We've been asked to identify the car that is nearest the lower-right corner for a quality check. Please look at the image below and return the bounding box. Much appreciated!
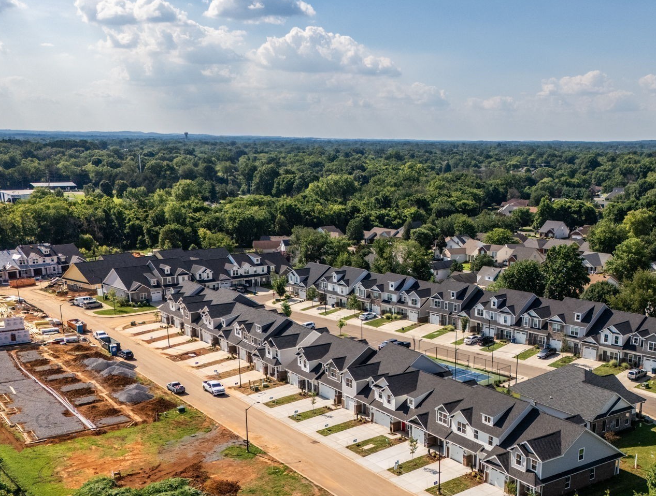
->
[626,366,646,379]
